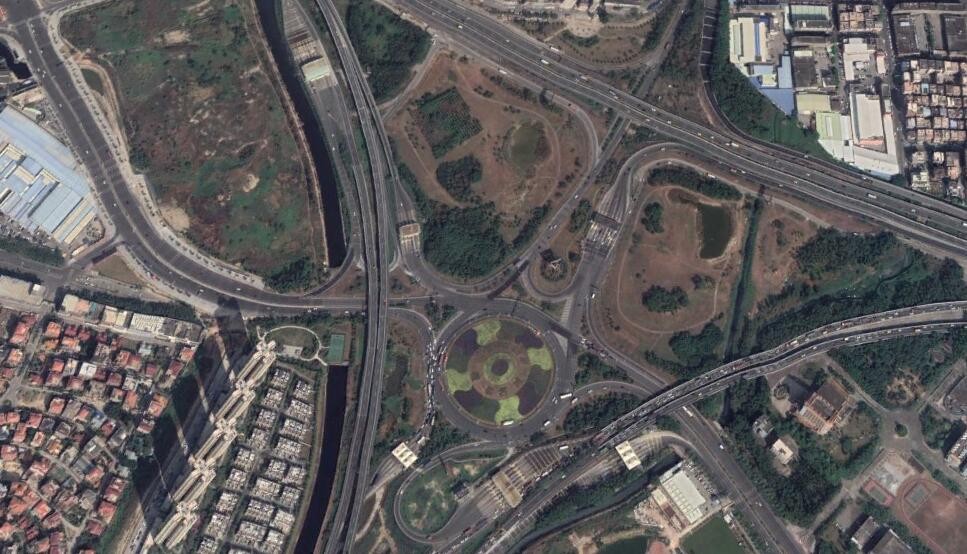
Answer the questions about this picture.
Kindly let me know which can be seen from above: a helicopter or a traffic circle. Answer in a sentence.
I can see a traffic circle in this picture.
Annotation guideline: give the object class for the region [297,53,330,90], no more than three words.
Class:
toll station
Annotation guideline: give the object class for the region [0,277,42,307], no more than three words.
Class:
building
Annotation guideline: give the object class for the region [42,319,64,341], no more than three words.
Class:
house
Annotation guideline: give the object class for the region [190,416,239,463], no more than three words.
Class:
building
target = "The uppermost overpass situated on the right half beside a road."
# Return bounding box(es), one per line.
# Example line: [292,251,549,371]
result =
[608,86,666,130]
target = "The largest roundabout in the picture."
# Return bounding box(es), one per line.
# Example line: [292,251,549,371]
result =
[427,297,573,443]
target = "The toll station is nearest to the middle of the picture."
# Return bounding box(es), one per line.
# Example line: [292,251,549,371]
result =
[399,219,419,244]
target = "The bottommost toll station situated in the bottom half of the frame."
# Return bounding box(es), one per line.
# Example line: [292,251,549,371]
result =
[485,469,527,511]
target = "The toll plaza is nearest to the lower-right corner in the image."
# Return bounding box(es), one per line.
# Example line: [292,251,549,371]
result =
[610,441,644,472]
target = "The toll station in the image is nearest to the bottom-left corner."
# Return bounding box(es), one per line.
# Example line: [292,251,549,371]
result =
[389,442,420,470]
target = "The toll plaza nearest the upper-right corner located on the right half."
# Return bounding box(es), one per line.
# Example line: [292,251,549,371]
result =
[586,203,625,243]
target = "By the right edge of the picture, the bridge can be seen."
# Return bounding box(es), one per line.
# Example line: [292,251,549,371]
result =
[591,301,967,445]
